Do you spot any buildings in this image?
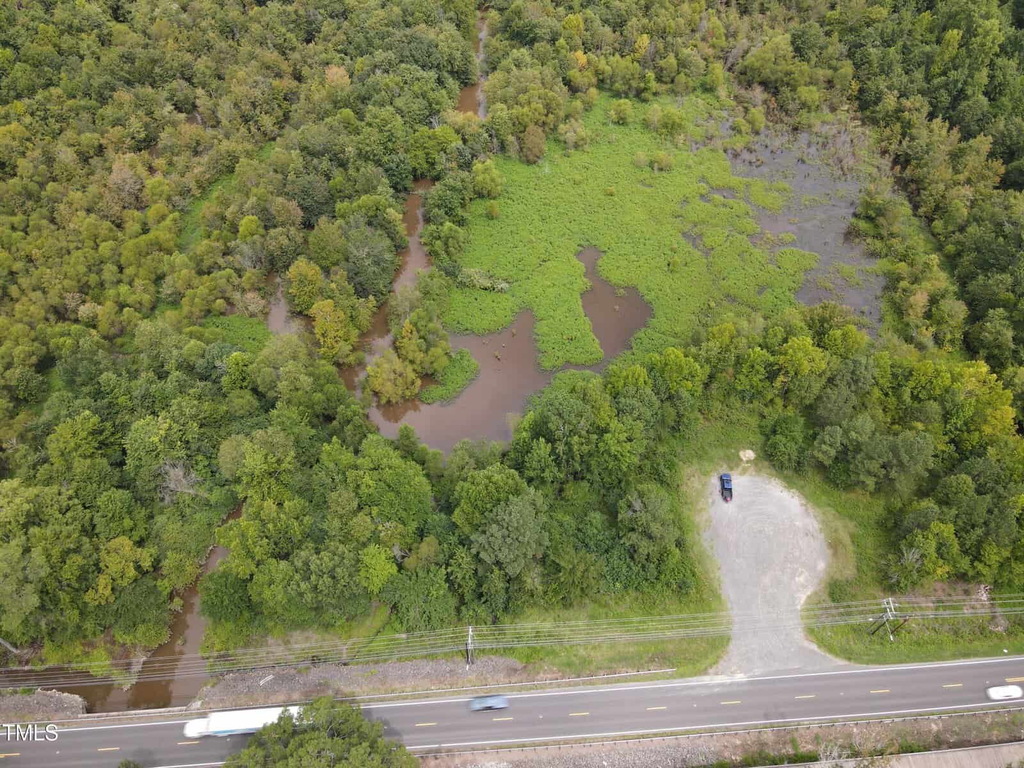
No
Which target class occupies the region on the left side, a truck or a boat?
truck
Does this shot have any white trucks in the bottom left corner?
Yes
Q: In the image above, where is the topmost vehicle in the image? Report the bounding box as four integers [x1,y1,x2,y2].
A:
[720,476,735,503]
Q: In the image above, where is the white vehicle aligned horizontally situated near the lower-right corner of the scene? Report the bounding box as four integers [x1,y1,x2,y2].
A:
[987,684,1020,700]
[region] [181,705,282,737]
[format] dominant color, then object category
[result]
white truck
